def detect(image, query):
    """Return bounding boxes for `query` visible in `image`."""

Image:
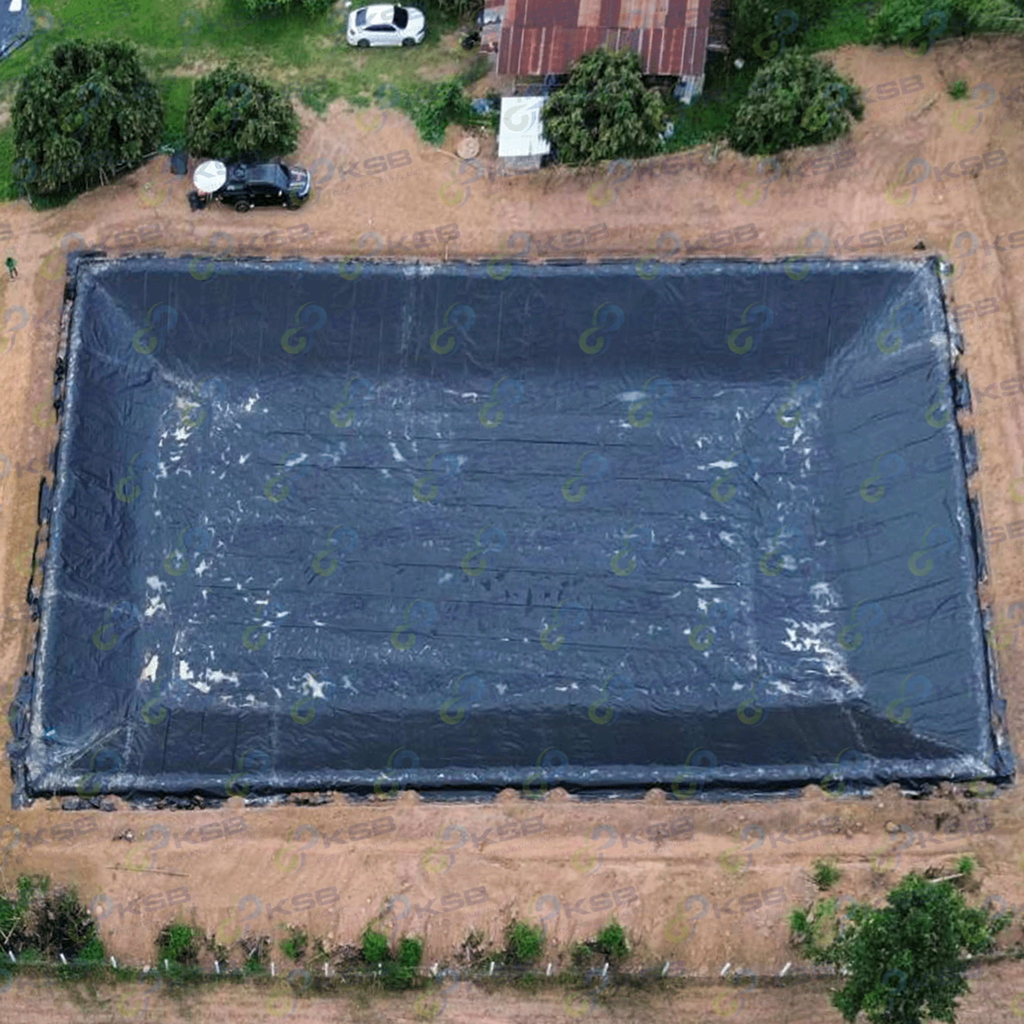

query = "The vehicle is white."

[346,0,426,47]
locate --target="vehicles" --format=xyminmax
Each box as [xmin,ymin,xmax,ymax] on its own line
[213,158,314,211]
[346,0,426,47]
[458,29,478,56]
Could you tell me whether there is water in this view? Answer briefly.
Yes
